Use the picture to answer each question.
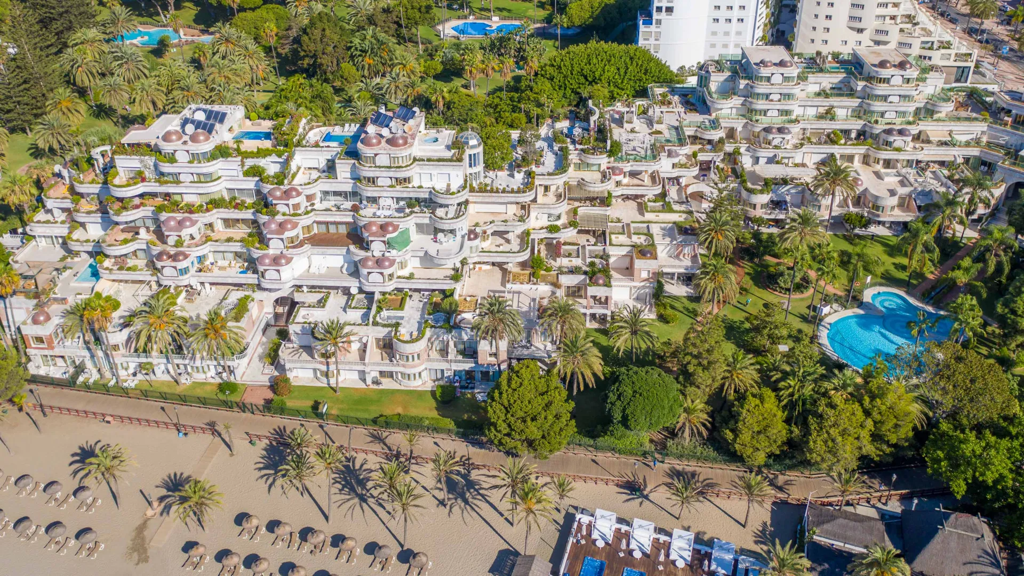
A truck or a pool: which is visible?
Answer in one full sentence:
Visible in the photo is a pool.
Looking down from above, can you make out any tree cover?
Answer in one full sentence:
Yes, there is tree cover in the image.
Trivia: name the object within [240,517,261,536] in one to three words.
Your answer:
umbrella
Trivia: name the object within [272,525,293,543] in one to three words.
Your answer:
umbrella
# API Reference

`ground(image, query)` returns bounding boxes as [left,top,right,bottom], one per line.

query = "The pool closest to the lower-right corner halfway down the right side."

[818,286,970,385]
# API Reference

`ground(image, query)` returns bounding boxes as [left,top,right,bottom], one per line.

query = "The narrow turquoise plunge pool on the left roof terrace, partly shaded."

[72,263,102,285]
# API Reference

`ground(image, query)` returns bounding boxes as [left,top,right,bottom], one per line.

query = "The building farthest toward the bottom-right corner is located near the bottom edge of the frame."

[901,502,1009,576]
